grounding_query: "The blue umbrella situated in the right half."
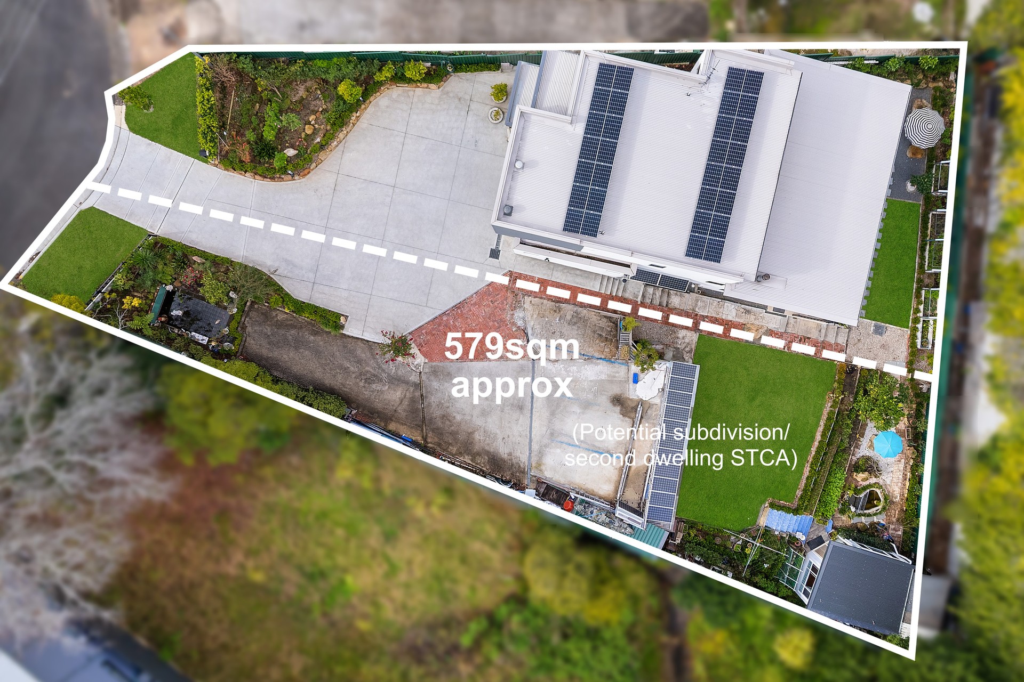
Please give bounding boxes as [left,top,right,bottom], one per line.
[872,429,903,460]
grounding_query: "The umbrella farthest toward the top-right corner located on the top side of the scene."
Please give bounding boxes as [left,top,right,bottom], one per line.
[905,109,944,148]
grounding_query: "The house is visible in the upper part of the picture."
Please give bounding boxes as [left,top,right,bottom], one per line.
[491,41,914,327]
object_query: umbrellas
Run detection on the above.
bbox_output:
[872,429,903,460]
[905,109,944,148]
